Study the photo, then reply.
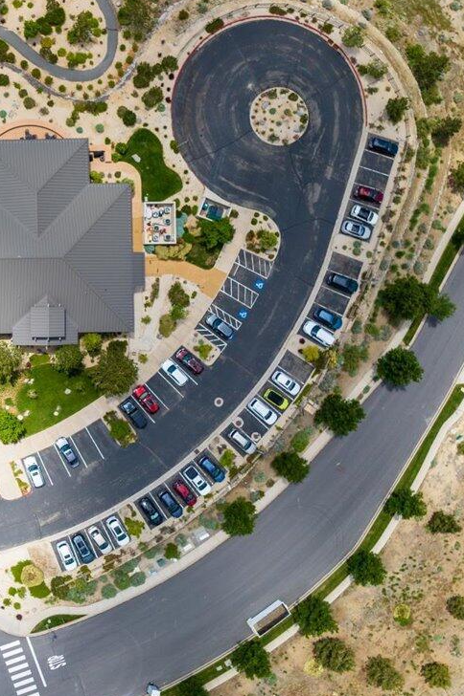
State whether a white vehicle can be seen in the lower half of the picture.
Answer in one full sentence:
Yes, I can see a white vehicle in the lower half of the picture.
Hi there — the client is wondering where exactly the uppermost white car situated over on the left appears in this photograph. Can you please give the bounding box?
[161,358,191,387]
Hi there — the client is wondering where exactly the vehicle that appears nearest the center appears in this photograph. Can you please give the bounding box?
[202,313,236,341]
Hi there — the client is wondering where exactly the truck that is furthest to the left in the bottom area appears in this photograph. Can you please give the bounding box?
[22,454,45,491]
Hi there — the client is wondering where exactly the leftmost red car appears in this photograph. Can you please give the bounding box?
[133,384,160,415]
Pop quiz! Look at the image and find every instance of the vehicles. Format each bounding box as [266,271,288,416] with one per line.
[22,454,45,491]
[161,358,191,387]
[202,313,236,341]
[352,184,383,204]
[311,306,345,331]
[365,136,400,156]
[300,320,338,348]
[88,524,112,556]
[347,203,381,226]
[338,219,372,240]
[174,347,206,375]
[325,272,360,295]
[246,396,278,425]
[106,514,130,549]
[270,368,301,397]
[138,495,164,526]
[171,477,199,509]
[55,436,82,470]
[227,427,257,456]
[55,539,79,573]
[118,395,149,431]
[133,384,160,415]
[261,386,290,411]
[198,454,227,484]
[155,488,184,520]
[182,465,211,495]
[72,532,97,566]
